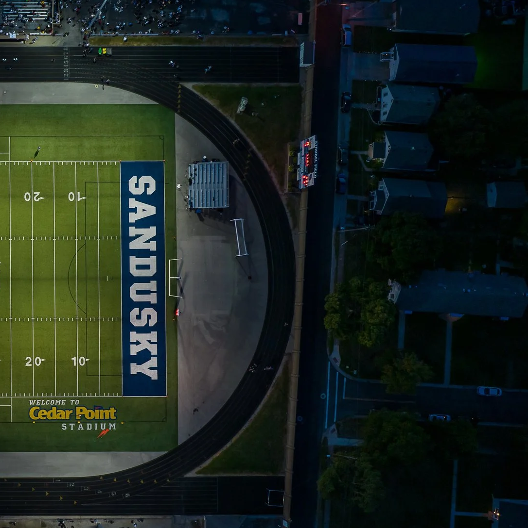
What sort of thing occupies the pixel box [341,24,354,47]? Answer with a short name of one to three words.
vehicle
